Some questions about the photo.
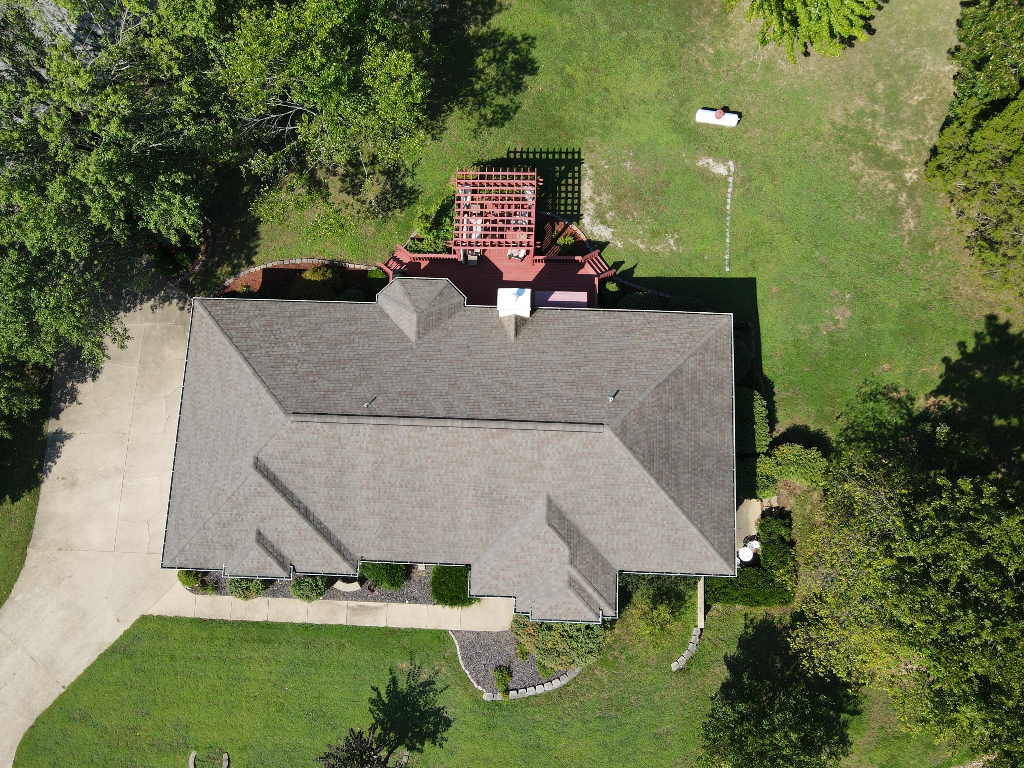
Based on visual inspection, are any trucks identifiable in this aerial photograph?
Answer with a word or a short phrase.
No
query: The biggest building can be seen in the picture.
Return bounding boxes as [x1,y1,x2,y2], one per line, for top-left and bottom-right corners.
[160,277,738,624]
